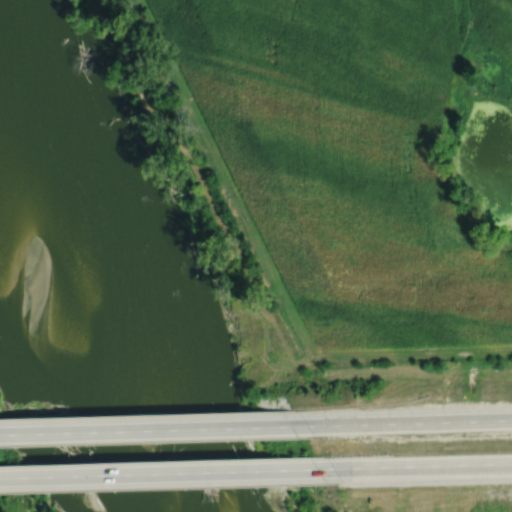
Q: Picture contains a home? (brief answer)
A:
No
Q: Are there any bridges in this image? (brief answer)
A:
Yes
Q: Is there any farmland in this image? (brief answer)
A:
Yes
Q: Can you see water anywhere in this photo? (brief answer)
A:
Yes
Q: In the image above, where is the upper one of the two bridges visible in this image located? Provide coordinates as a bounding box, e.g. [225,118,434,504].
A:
[0,410,318,448]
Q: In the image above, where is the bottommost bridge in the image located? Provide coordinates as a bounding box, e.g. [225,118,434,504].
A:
[0,458,340,495]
